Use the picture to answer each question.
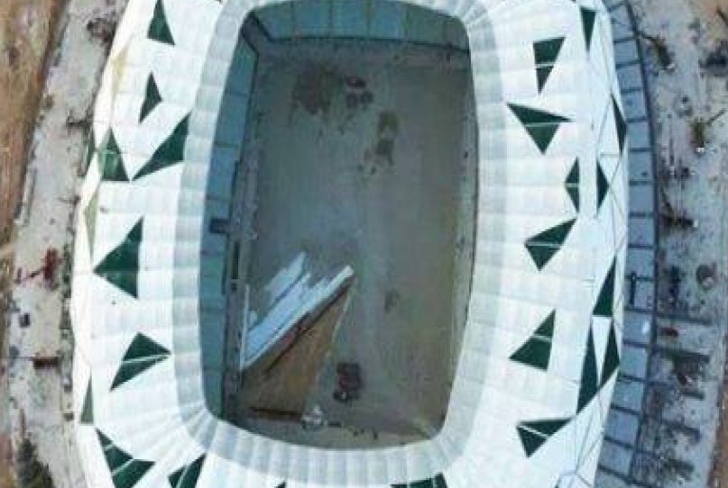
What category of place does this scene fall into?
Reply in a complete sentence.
This looks like a sports ground.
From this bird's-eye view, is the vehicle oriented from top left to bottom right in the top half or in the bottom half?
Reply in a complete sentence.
The vehicle oriented from top left to bottom right is in the bottom half of the image.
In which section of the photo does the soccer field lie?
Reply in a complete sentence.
The soccer field is located in the center region of the scene.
